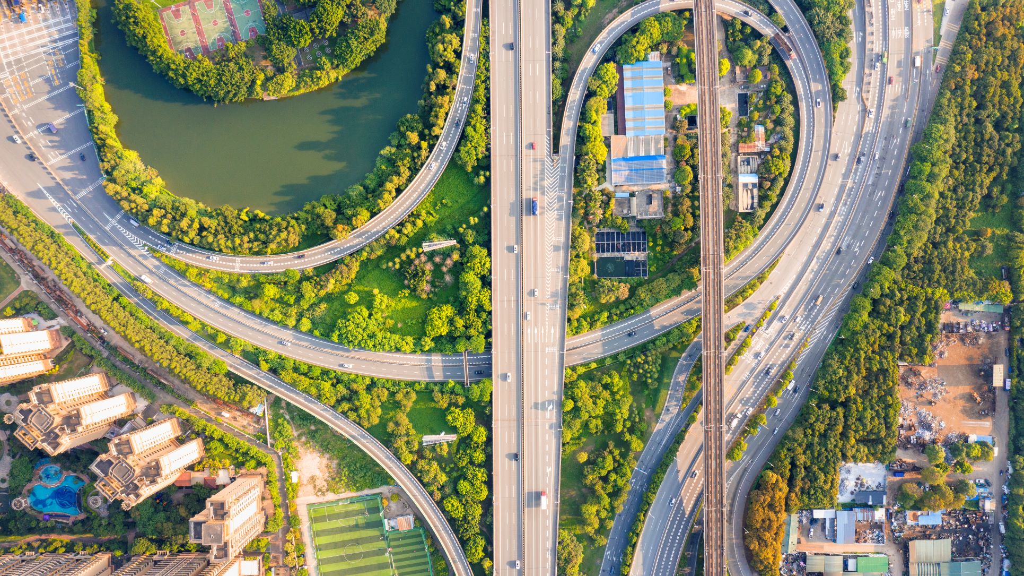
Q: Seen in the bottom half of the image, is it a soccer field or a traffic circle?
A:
soccer field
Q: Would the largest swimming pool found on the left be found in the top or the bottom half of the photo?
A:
bottom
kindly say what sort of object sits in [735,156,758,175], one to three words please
shed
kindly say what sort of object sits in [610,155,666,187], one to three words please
building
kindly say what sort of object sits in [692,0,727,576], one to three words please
bridge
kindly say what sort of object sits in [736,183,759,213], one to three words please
shed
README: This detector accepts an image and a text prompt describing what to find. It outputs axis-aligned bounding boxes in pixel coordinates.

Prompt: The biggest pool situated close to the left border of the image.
[27,474,86,515]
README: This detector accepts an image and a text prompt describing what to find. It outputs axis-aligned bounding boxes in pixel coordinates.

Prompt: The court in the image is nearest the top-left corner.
[163,6,203,60]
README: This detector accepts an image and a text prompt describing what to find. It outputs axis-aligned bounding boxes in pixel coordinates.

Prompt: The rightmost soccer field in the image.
[389,529,431,576]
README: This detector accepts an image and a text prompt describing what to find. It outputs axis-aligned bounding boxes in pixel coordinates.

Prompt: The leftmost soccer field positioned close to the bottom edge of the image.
[311,497,393,576]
